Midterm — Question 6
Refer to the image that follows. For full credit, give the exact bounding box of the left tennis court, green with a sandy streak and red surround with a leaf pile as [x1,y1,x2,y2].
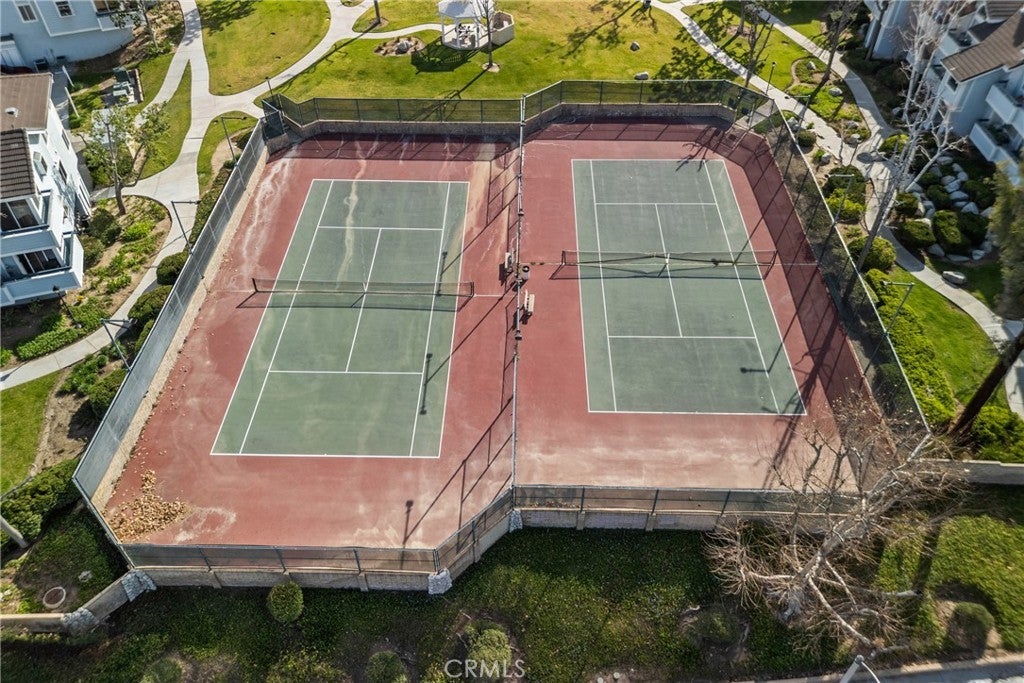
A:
[104,134,519,568]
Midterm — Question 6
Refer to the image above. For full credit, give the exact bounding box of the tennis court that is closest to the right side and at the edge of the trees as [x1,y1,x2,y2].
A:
[513,117,898,512]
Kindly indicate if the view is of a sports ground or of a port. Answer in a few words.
sports ground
